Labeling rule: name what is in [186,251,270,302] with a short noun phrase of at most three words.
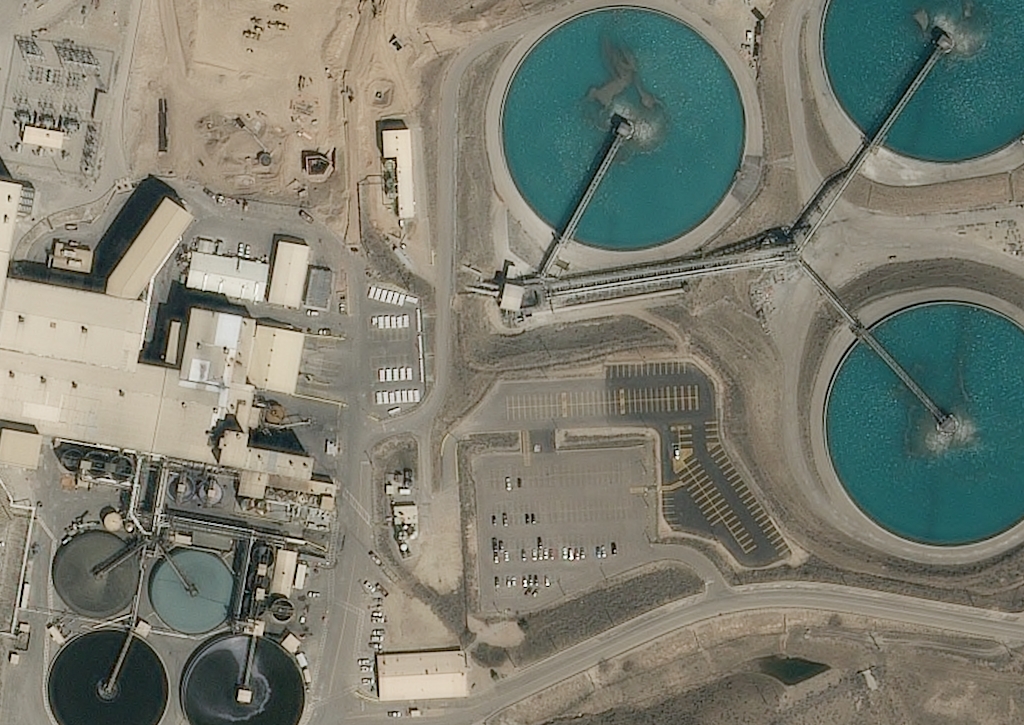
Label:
building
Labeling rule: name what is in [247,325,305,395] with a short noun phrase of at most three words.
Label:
shed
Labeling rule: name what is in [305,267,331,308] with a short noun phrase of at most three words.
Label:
shed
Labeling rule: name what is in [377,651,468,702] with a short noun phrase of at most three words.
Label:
building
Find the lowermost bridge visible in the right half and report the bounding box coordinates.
[798,256,944,421]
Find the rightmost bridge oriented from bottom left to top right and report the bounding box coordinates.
[796,45,938,246]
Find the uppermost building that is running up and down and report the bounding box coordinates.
[383,129,414,218]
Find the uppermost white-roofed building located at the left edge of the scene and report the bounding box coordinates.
[23,126,64,150]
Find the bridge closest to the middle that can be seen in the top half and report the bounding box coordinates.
[538,132,619,283]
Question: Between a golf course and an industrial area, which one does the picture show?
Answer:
industrial area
